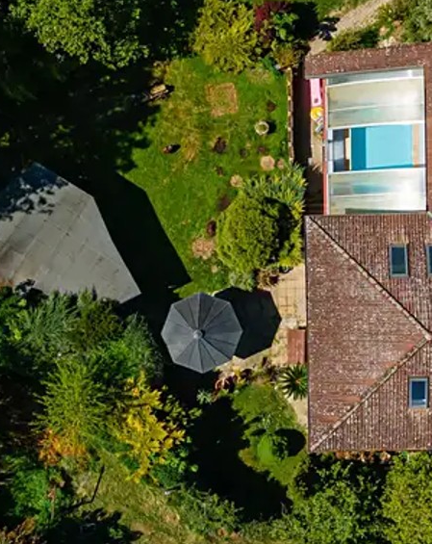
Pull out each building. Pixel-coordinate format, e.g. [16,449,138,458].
[302,36,432,455]
[0,163,141,302]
